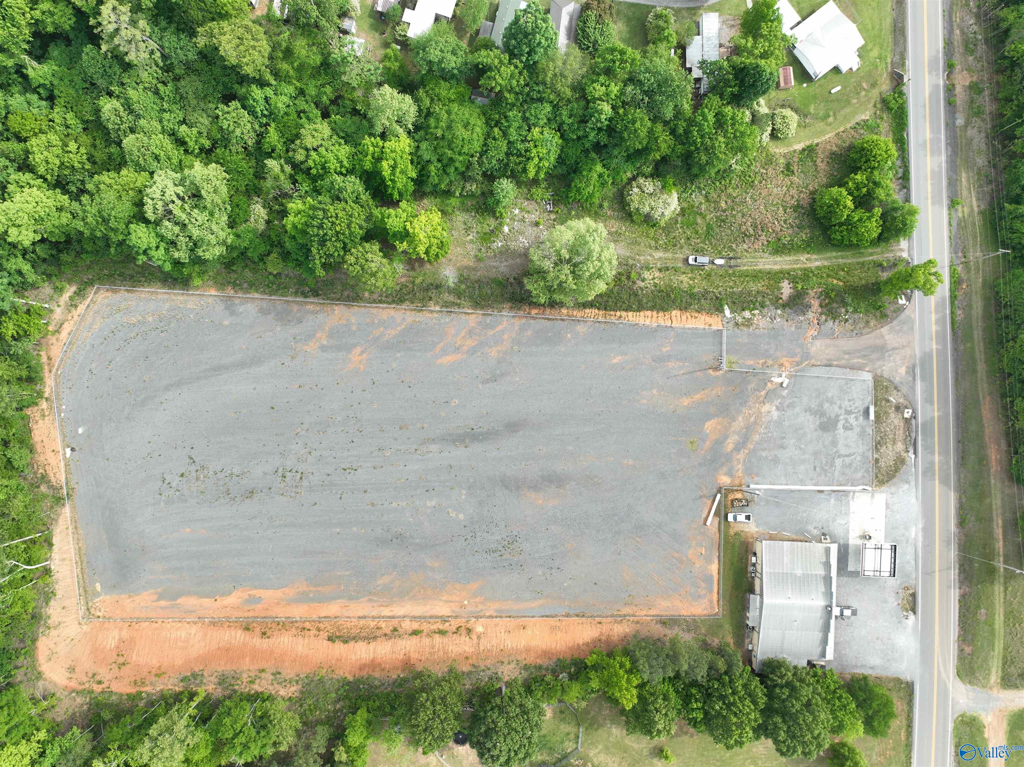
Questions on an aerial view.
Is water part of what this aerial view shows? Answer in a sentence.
No, there is no water in the image.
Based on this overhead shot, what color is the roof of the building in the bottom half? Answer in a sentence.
The roof of the building in the bottom half is white.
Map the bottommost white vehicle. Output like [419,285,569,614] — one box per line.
[835,608,860,621]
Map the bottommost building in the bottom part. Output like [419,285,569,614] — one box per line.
[745,538,838,673]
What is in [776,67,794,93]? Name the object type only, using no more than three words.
shed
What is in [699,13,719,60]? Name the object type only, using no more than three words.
house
